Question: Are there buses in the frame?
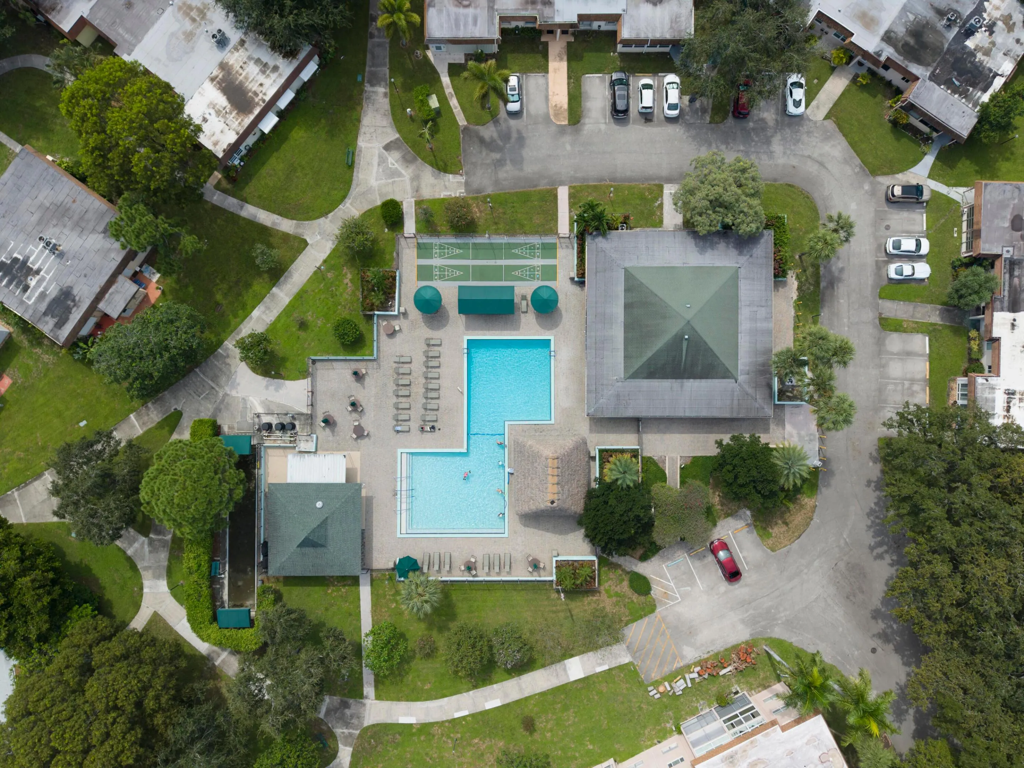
No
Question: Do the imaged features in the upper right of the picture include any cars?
Yes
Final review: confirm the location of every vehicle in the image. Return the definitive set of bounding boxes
[710,537,740,582]
[731,79,752,120]
[637,78,655,114]
[784,75,806,117]
[504,74,523,115]
[883,236,928,256]
[662,74,682,119]
[885,261,928,281]
[884,183,929,204]
[610,73,630,119]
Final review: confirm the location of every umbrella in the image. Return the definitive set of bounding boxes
[414,286,442,314]
[531,286,558,314]
[396,554,420,579]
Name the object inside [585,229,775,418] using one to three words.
building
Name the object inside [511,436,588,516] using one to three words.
shed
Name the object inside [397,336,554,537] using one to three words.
swimming pool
